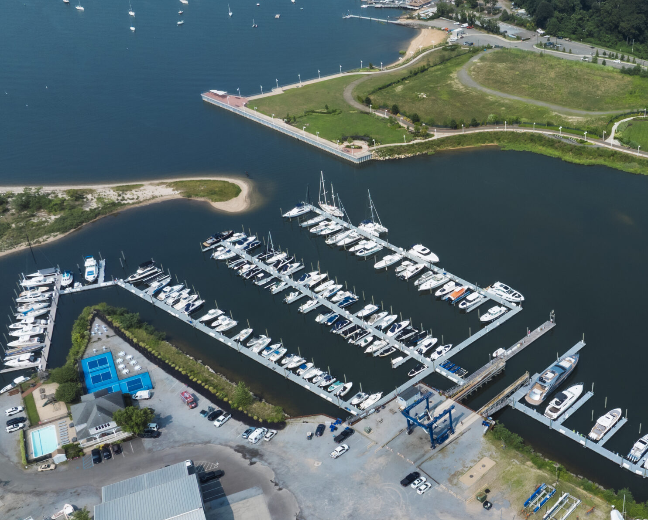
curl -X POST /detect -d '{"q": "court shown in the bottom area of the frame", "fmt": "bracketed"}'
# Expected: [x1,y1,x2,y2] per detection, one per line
[82,352,153,394]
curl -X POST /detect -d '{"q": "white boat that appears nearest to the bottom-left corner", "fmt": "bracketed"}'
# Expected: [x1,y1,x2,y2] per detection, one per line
[1,375,32,392]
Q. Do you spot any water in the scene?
Yes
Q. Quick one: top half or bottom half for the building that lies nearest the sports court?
bottom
